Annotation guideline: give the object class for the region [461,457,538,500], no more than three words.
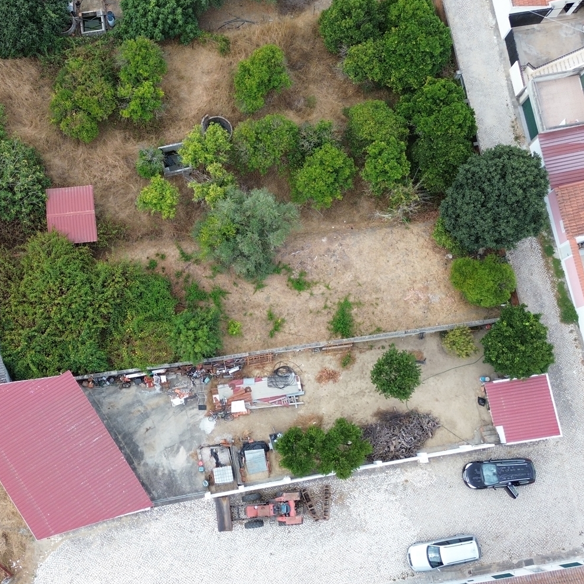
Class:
car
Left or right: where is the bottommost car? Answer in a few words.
right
